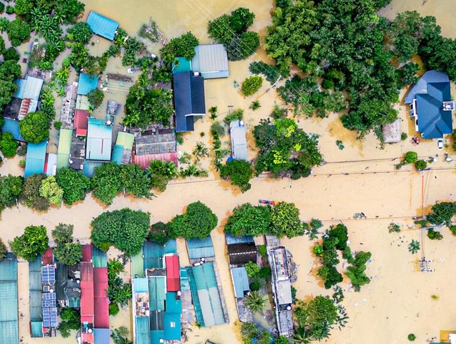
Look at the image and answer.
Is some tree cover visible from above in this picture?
Yes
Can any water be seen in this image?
Yes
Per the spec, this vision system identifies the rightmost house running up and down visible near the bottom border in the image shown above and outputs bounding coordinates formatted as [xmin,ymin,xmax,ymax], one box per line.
[262,235,297,336]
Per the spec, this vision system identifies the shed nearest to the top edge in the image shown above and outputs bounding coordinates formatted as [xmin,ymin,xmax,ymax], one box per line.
[86,11,118,42]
